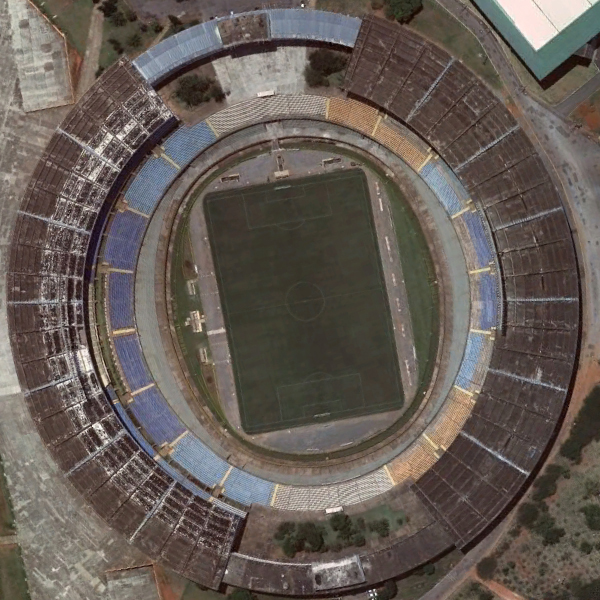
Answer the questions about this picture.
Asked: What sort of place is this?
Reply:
sports ground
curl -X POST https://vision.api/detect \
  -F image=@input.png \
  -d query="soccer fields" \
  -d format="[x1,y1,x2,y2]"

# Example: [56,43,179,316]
[206,169,403,432]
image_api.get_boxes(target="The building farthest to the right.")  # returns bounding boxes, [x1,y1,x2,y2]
[473,0,600,80]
